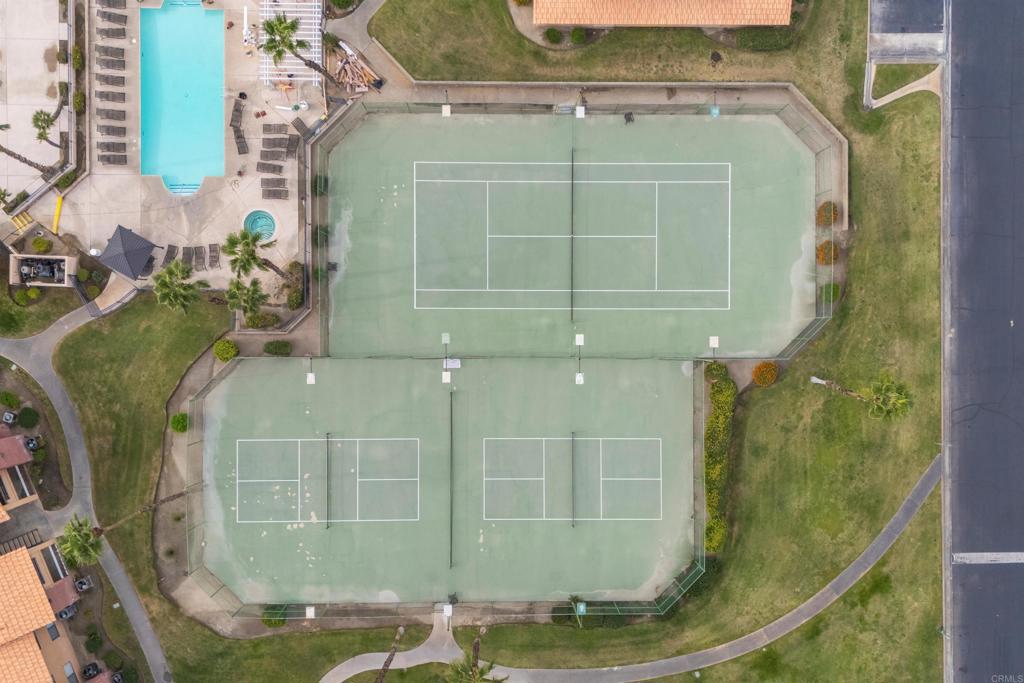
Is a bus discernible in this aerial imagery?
No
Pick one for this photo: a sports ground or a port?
sports ground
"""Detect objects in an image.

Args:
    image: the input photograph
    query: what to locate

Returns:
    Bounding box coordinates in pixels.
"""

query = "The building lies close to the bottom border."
[0,538,129,683]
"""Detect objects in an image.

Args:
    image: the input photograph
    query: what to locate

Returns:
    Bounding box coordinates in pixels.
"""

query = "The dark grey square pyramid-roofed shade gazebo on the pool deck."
[98,224,176,285]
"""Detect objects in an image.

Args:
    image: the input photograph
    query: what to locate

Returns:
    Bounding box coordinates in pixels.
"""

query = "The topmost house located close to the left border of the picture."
[0,421,56,524]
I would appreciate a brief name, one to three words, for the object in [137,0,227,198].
swimming pool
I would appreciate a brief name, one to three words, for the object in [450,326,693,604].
sports court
